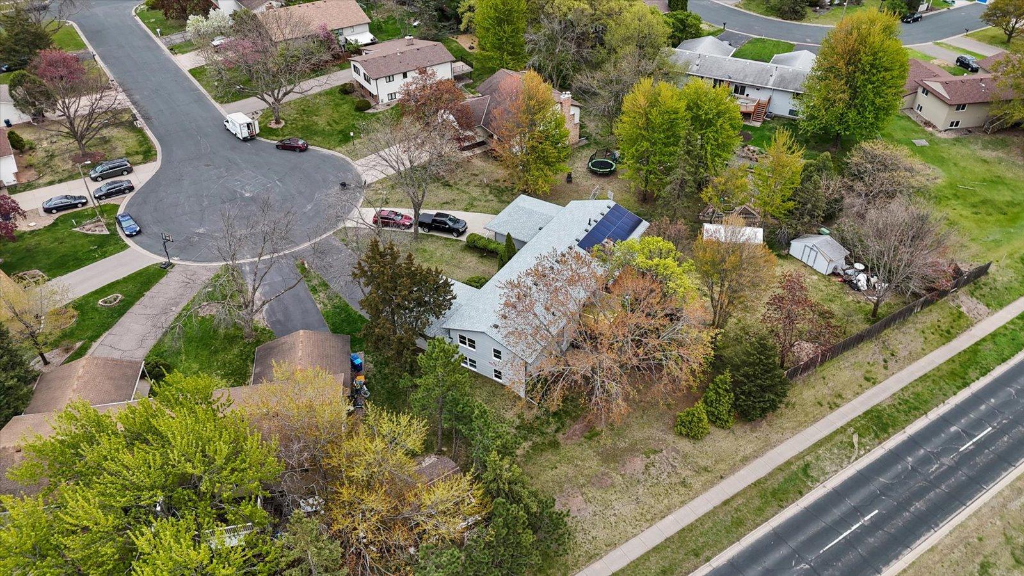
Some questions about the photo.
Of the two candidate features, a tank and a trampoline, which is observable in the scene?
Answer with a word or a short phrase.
trampoline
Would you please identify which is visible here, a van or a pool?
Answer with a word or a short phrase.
van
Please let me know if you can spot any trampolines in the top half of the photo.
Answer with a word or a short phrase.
Yes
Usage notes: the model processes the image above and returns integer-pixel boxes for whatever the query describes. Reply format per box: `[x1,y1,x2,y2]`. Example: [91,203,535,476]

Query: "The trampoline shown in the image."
[588,150,619,175]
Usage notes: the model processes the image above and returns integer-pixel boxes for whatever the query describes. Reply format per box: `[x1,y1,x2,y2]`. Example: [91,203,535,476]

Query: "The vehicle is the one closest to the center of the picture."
[419,210,470,236]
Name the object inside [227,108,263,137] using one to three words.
van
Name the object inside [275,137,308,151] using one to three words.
car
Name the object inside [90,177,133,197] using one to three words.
car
